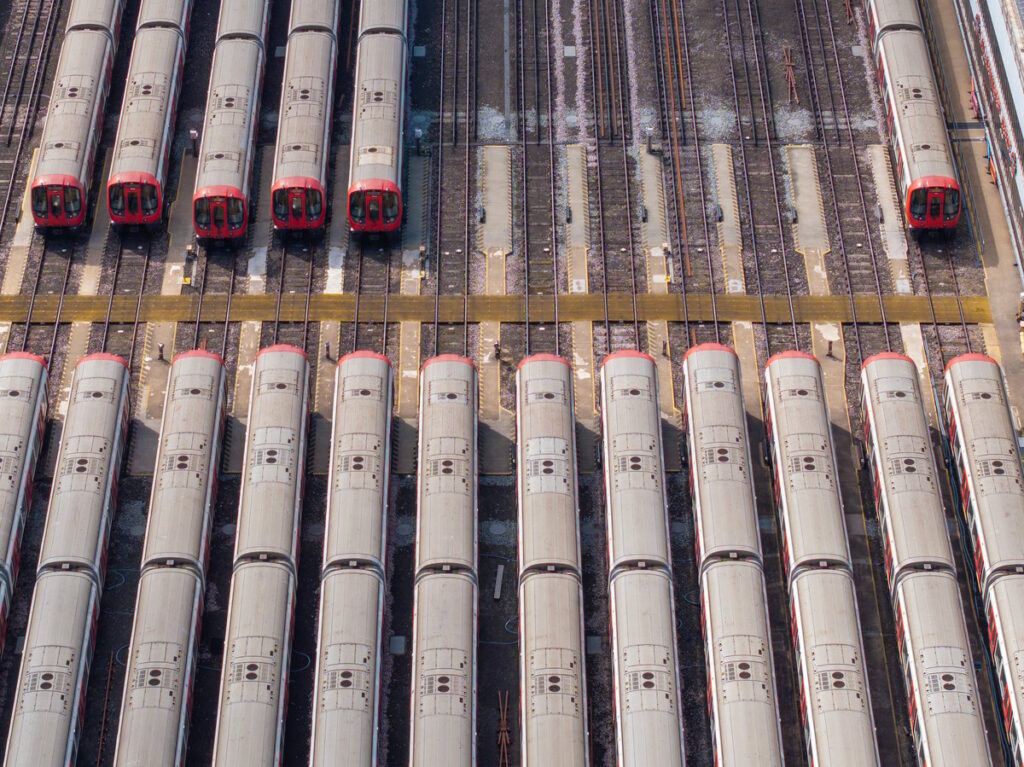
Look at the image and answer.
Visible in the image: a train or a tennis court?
train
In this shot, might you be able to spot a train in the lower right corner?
Yes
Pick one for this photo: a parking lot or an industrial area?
parking lot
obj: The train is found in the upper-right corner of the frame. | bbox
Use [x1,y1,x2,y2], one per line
[862,0,962,240]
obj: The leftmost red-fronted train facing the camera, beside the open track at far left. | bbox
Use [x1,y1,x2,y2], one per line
[30,0,128,240]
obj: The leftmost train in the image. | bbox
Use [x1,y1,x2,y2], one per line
[0,354,52,665]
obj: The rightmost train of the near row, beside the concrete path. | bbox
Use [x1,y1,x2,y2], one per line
[942,355,1024,767]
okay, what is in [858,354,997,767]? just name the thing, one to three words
train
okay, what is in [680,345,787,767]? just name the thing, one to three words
train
